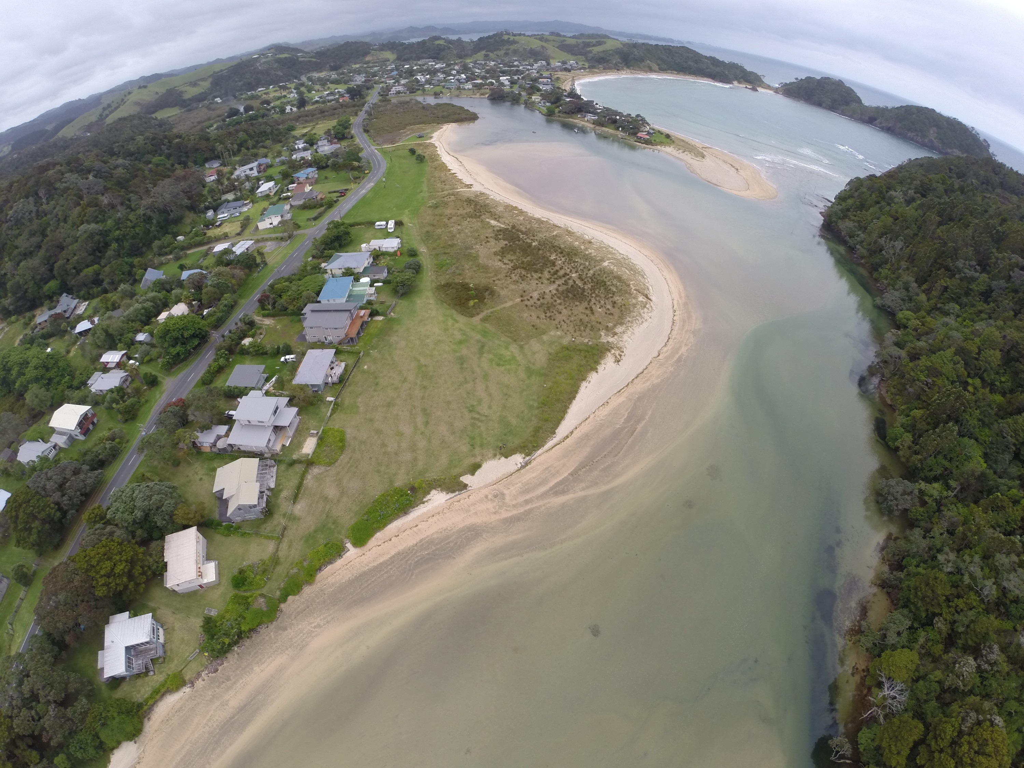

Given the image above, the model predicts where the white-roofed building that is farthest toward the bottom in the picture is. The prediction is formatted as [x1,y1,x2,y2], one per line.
[98,611,166,681]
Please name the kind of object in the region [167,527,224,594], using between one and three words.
house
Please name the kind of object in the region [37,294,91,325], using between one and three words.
house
